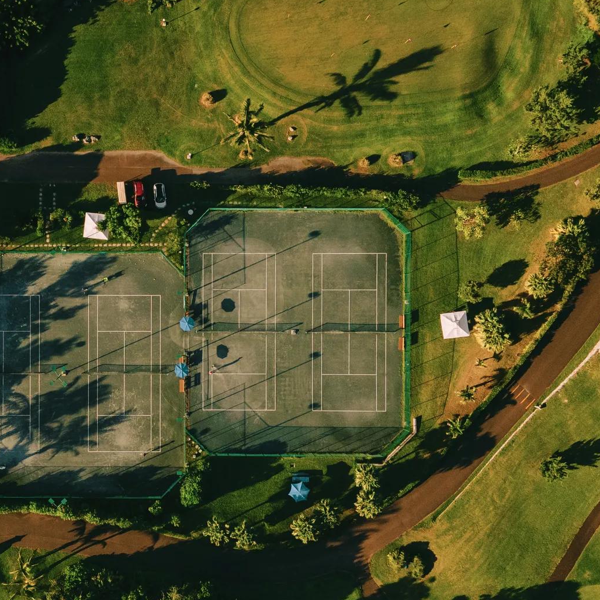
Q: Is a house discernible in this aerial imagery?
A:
No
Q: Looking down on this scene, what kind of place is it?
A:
sports ground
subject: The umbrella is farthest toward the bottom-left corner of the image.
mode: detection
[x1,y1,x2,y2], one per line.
[175,363,188,378]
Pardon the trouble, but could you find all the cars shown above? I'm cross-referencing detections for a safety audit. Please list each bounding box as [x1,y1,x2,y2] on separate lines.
[132,180,146,208]
[154,183,168,208]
